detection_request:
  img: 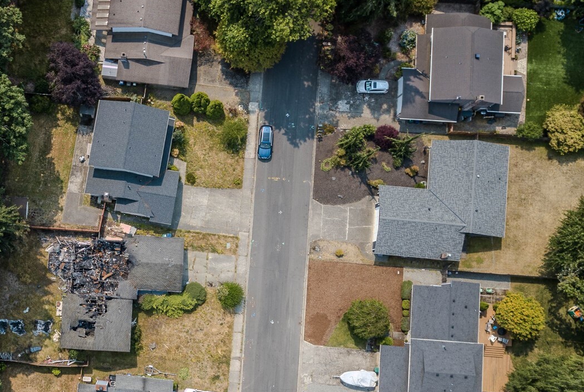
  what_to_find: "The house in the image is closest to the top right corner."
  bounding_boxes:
[384,12,525,123]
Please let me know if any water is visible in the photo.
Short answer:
No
